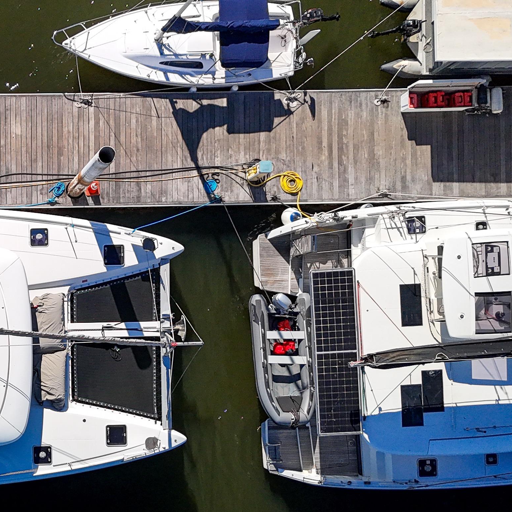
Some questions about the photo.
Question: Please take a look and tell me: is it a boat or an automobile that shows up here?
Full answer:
The image shows a boat.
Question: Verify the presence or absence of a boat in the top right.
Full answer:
Yes, looking in the top right, one can make out a boat.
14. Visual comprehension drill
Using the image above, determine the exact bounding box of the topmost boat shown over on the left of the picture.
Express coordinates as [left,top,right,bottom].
[51,0,340,86]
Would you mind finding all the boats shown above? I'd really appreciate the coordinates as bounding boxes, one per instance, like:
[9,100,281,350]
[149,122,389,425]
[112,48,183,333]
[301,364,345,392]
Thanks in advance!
[369,0,512,81]
[250,291,316,427]
[250,201,512,489]
[51,0,340,86]
[0,210,206,483]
